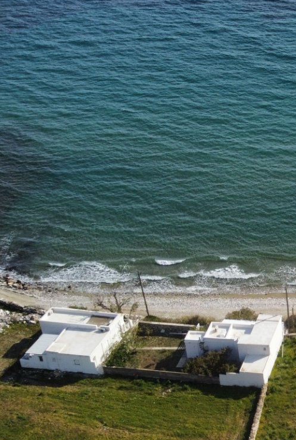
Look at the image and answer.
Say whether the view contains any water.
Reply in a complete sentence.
Yes, the picture does contain water.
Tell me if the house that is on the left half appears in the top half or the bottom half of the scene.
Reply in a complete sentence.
It is in the bottom half that the house that is on the left half appears.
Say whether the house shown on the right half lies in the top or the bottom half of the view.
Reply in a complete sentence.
You can find the house shown on the right half in the bottom half.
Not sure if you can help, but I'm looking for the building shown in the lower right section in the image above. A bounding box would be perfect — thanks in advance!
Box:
[176,313,284,383]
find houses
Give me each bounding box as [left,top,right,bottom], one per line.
[19,308,134,373]
[176,313,284,383]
